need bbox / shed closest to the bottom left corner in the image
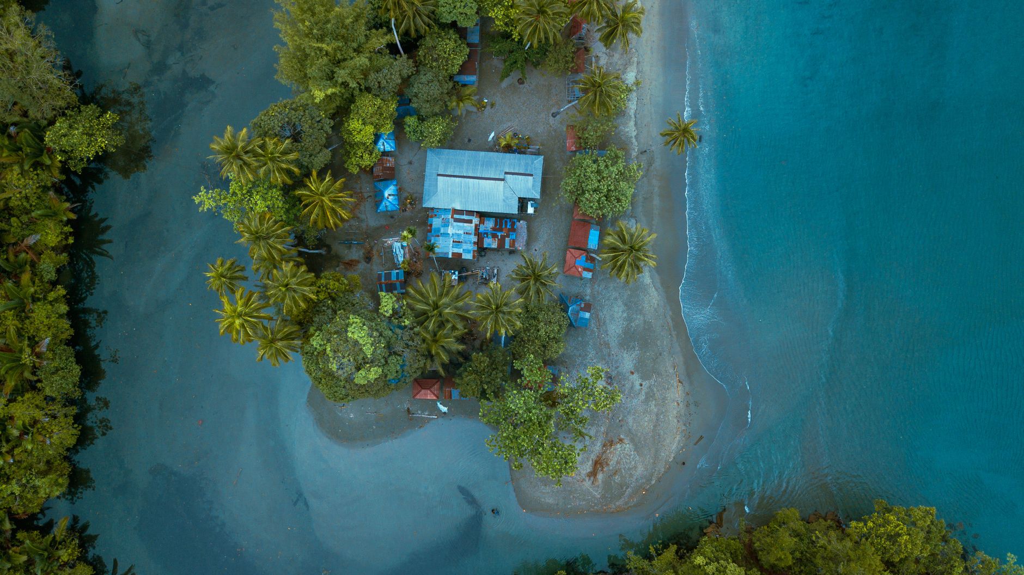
[412,378,440,400]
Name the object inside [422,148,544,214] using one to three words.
house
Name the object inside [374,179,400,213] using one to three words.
shed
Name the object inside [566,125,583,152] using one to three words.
shed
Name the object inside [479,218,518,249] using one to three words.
house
